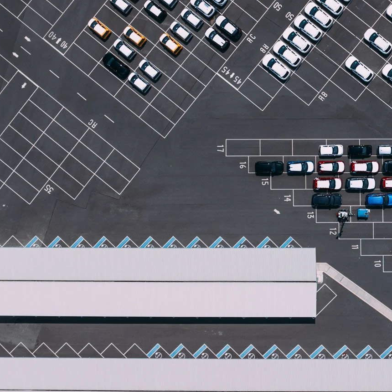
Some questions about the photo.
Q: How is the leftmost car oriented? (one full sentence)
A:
The leftmost car runs on a diagonal in the image.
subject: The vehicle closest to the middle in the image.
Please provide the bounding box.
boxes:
[254,160,284,175]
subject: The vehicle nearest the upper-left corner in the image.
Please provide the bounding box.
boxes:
[89,18,112,40]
